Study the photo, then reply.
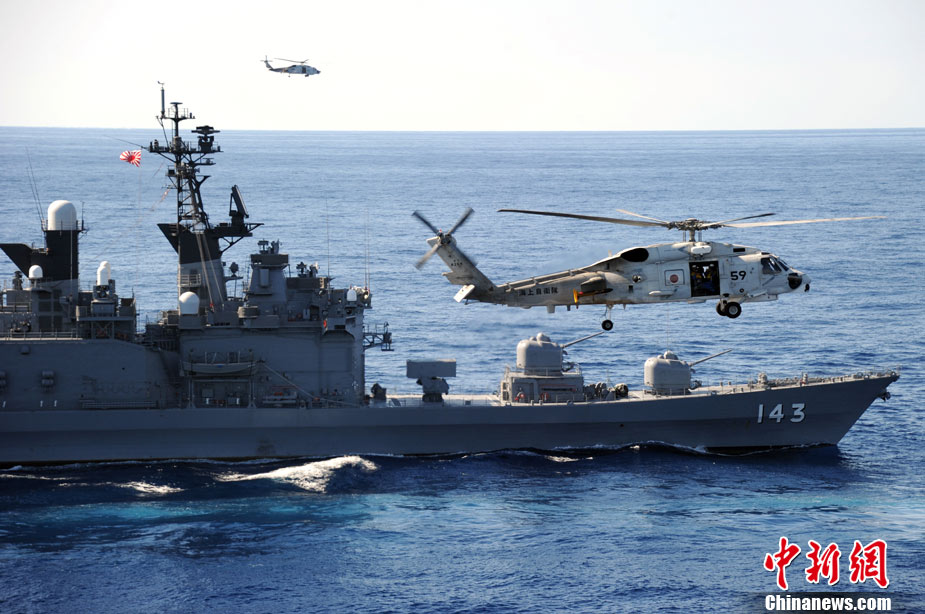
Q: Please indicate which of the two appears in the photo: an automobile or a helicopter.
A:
helicopter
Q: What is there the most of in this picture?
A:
water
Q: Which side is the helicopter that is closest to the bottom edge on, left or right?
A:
right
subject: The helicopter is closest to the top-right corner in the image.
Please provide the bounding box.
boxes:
[411,207,883,330]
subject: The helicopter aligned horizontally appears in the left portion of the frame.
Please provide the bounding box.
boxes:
[260,55,320,77]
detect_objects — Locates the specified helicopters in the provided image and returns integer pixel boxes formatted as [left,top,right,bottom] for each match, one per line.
[260,55,320,77]
[411,207,883,330]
